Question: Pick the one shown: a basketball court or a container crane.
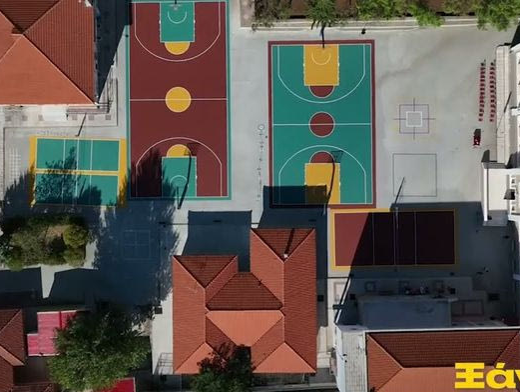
basketball court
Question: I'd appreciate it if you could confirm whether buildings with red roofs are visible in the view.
Yes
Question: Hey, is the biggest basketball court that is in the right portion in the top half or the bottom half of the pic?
top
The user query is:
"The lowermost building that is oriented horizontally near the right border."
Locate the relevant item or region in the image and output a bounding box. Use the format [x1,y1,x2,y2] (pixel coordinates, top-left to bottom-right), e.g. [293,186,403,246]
[335,311,520,392]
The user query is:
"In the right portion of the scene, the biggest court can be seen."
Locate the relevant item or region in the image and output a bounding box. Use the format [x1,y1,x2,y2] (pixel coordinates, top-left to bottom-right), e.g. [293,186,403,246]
[268,40,377,209]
